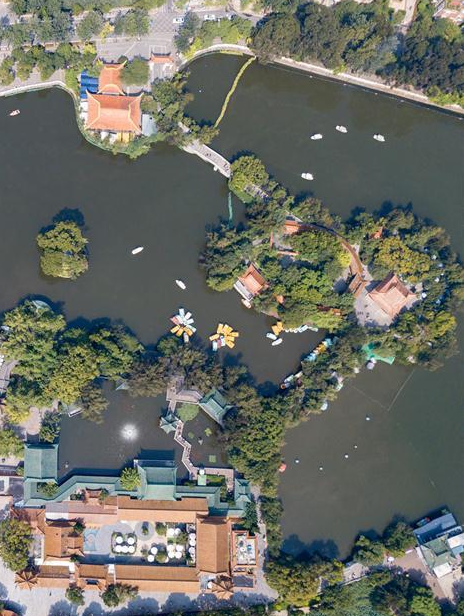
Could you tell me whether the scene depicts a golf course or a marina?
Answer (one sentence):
The picture captures a marina.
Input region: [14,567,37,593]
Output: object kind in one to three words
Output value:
building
